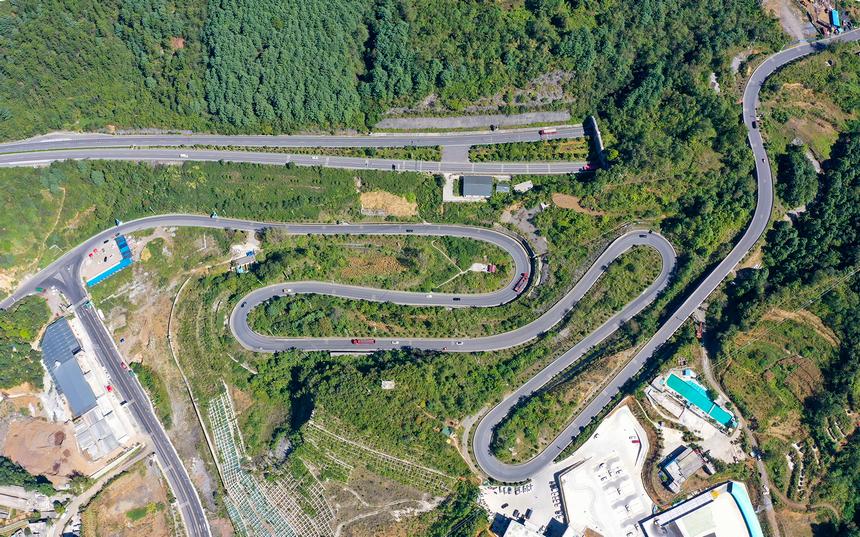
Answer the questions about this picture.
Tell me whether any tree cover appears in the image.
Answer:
Yes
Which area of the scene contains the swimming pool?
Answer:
bottom right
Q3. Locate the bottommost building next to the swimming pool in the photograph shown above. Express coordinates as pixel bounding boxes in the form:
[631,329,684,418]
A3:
[638,477,763,537]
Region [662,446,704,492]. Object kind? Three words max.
house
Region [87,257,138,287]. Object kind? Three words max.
building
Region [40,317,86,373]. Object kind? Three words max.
shed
